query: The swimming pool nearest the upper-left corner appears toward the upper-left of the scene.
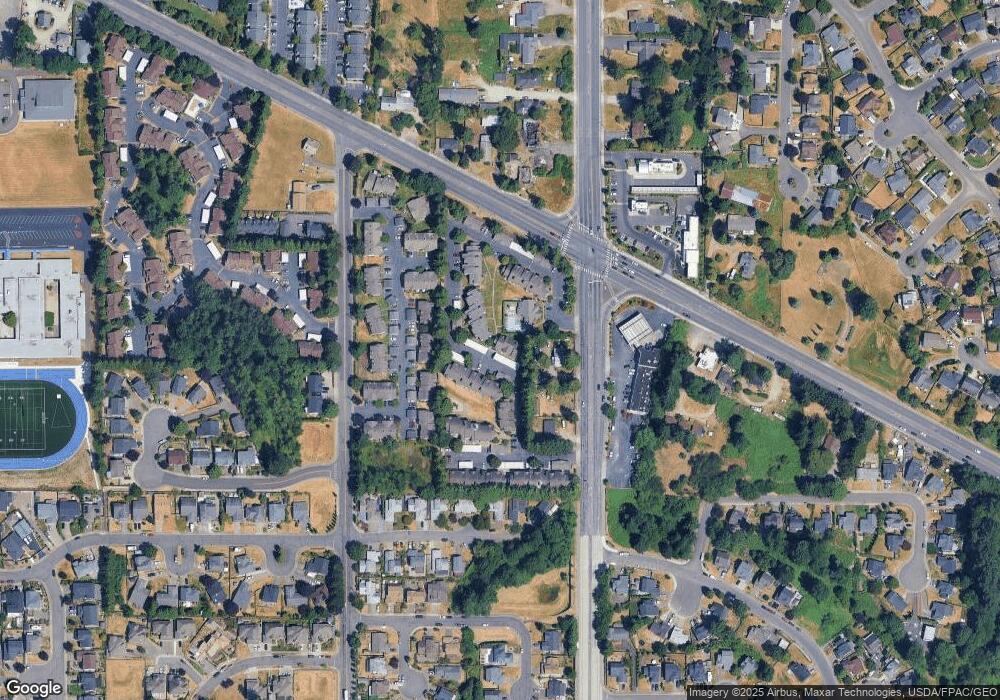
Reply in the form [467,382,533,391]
[184,94,206,117]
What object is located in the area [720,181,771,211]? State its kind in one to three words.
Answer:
barn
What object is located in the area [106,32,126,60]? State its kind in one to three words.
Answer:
building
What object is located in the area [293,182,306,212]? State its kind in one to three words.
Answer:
shed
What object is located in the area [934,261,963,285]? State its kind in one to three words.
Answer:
house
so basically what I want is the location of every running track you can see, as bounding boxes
[0,367,88,470]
